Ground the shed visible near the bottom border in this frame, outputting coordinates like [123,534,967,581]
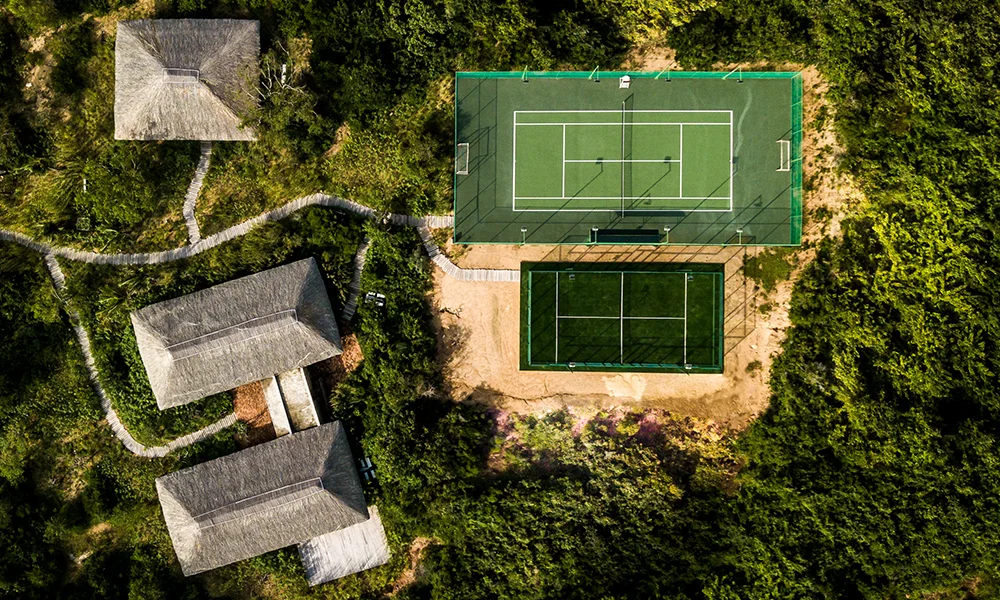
[155,421,368,576]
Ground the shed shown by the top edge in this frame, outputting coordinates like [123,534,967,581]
[113,19,260,141]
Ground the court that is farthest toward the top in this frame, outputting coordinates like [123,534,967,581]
[456,78,792,243]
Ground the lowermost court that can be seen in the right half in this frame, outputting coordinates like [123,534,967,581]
[520,262,723,373]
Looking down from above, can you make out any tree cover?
Yes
